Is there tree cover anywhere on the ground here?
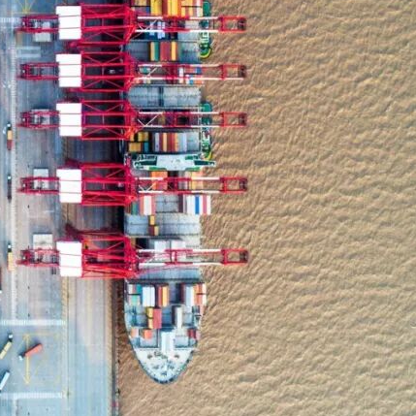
No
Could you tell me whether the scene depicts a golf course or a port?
port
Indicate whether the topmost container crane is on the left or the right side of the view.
left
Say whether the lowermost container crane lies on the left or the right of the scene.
left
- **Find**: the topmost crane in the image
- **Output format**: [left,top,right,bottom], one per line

[13,3,246,51]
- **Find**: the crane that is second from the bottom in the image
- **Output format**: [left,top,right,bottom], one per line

[14,158,247,204]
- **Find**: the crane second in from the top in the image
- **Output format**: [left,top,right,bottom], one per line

[14,51,246,96]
